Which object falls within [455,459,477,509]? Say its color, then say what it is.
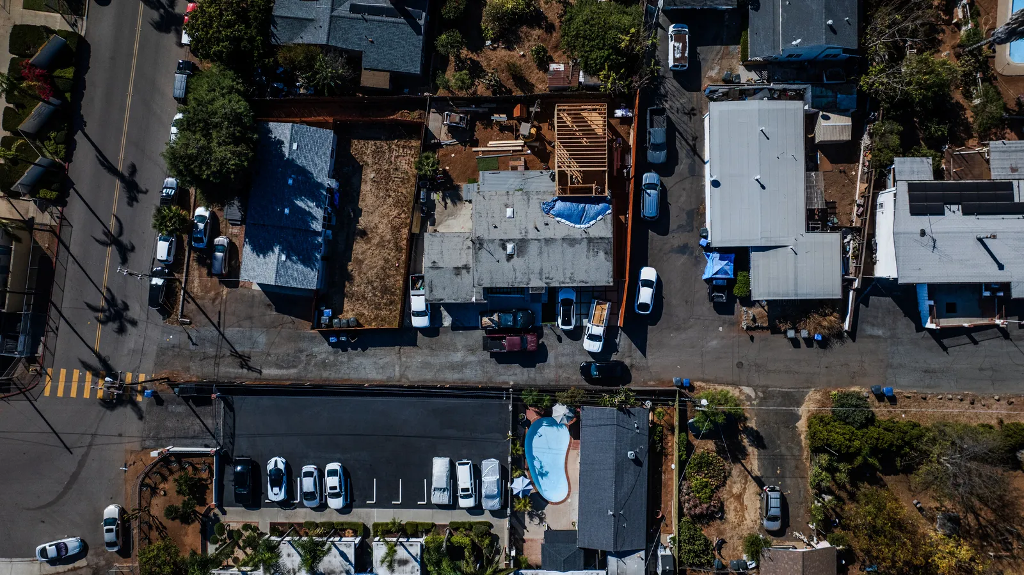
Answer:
white car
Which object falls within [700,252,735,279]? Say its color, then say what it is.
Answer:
blue tent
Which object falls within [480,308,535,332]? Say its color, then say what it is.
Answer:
black truck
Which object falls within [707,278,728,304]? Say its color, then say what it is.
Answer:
black car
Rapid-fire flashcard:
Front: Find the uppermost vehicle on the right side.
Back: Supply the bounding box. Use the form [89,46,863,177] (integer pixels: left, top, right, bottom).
[667,23,692,71]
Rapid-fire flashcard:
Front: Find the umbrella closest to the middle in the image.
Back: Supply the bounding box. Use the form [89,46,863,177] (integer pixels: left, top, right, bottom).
[551,401,574,424]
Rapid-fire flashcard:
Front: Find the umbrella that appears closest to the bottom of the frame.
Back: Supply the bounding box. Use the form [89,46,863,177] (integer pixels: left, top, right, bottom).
[509,474,532,496]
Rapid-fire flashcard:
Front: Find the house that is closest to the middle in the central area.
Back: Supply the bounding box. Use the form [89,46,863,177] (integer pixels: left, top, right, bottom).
[424,170,613,303]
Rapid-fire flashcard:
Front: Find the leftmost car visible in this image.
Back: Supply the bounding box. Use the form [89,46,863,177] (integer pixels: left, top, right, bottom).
[34,534,88,562]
